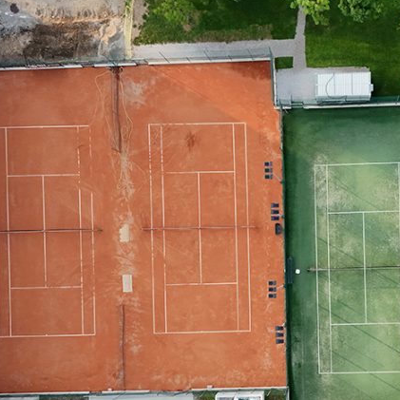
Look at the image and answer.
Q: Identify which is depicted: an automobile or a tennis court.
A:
tennis court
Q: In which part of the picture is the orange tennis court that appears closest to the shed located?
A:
center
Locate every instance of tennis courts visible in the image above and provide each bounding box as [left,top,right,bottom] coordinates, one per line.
[283,105,400,400]
[117,60,287,390]
[0,64,122,393]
